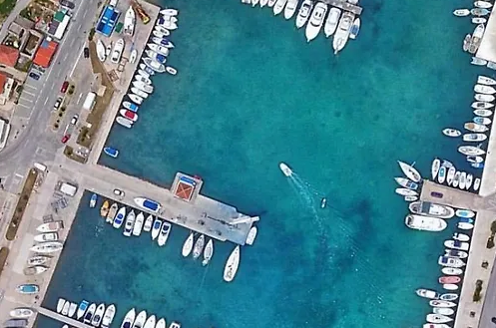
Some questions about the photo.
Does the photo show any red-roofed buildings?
Yes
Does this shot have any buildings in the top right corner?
No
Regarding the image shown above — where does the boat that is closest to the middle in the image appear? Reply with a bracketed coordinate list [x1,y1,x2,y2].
[280,163,294,178]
